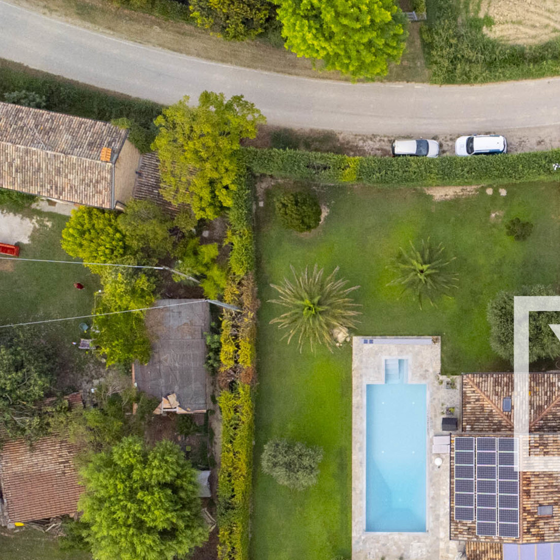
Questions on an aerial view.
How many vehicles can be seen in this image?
2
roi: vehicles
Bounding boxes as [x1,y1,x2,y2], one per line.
[456,133,508,160]
[393,138,440,161]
